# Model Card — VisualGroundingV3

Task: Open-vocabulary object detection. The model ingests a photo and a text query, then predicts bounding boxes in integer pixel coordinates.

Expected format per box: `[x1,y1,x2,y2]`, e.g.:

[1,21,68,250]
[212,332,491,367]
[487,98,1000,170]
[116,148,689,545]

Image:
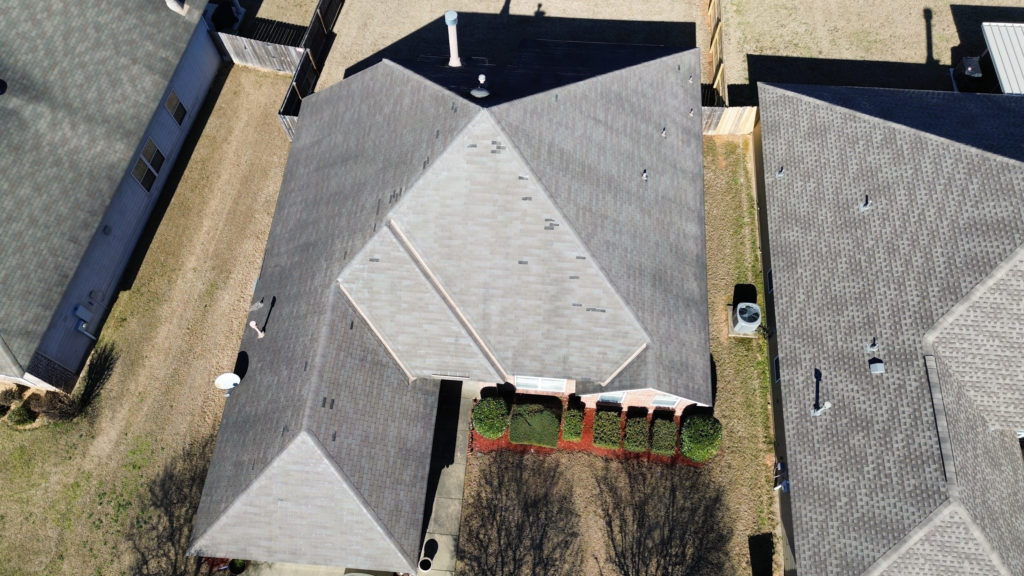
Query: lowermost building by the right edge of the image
[752,81,1024,576]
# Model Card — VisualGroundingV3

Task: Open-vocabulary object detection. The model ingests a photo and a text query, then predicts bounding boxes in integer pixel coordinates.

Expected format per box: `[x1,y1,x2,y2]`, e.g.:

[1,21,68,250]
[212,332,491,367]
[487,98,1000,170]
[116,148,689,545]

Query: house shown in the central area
[185,11,713,576]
